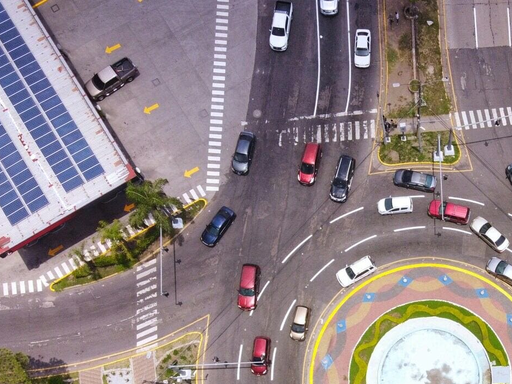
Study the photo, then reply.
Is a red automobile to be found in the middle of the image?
Yes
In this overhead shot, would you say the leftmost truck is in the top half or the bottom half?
top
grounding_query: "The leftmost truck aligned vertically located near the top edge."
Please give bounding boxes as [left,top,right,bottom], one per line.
[269,0,293,53]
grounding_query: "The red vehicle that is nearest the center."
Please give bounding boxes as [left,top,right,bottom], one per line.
[298,142,322,185]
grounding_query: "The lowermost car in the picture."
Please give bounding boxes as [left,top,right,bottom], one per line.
[249,336,272,376]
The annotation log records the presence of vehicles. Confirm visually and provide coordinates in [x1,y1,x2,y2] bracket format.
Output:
[298,142,322,185]
[84,55,143,99]
[469,215,512,254]
[249,336,272,376]
[330,154,356,202]
[235,263,262,311]
[394,167,437,193]
[352,28,372,69]
[378,194,413,216]
[269,0,293,53]
[319,0,339,16]
[336,255,377,286]
[198,204,239,247]
[485,256,512,286]
[230,131,256,175]
[288,305,312,342]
